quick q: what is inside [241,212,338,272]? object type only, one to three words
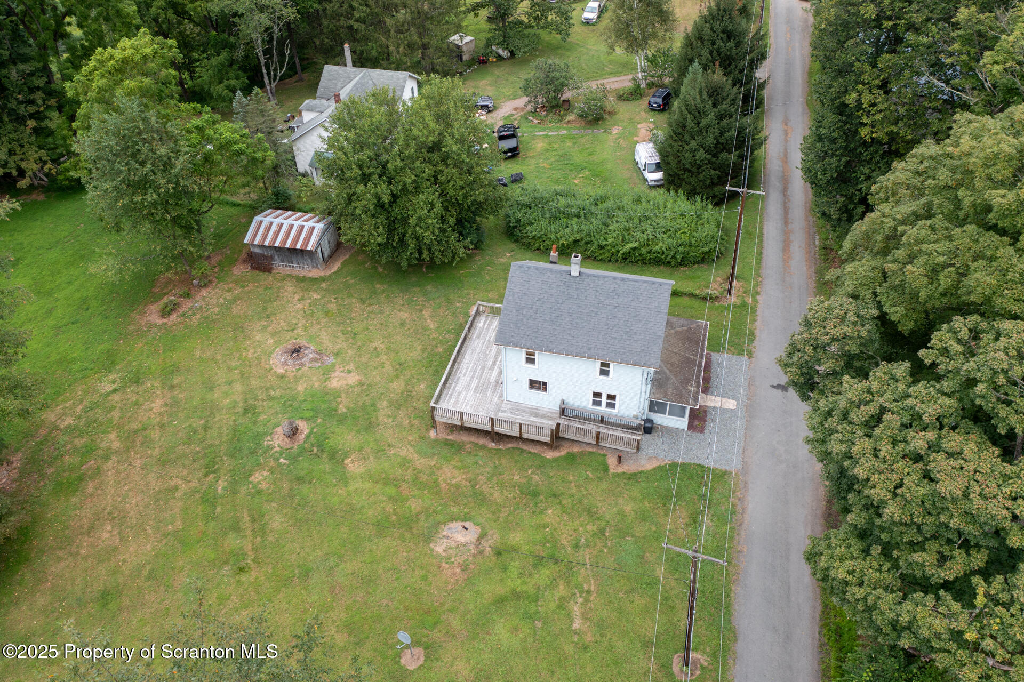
shed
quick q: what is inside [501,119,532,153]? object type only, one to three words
truck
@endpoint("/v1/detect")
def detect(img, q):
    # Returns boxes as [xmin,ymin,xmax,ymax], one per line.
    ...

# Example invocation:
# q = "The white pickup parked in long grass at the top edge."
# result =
[584,0,606,20]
